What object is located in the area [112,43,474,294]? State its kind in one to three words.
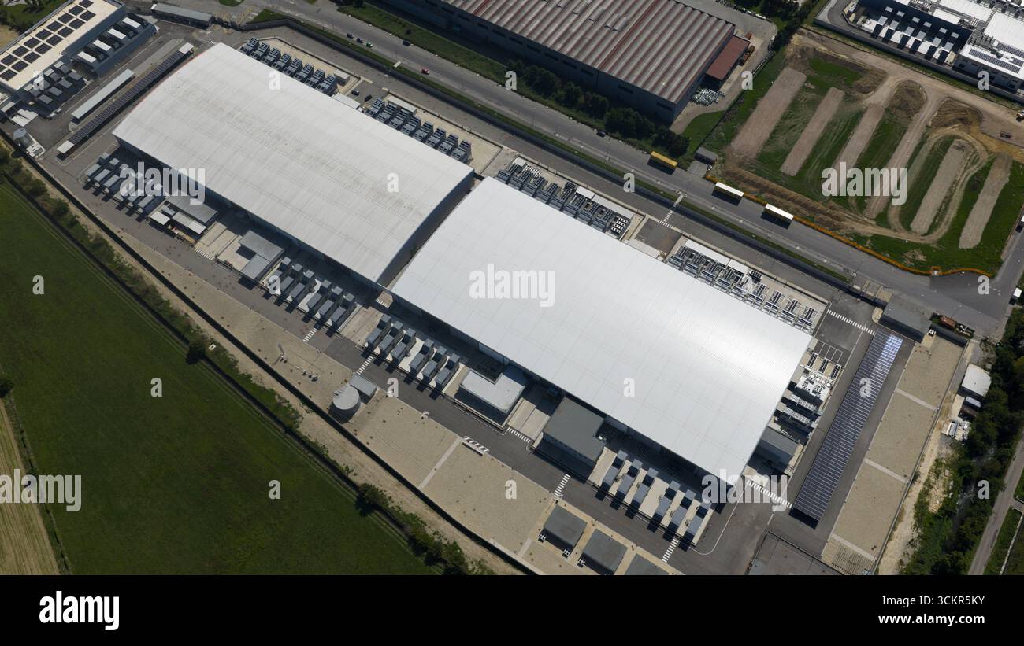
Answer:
building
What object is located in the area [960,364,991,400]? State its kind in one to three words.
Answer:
barn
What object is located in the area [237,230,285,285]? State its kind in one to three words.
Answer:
building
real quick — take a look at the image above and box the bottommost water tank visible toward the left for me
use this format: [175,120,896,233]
[332,384,361,420]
